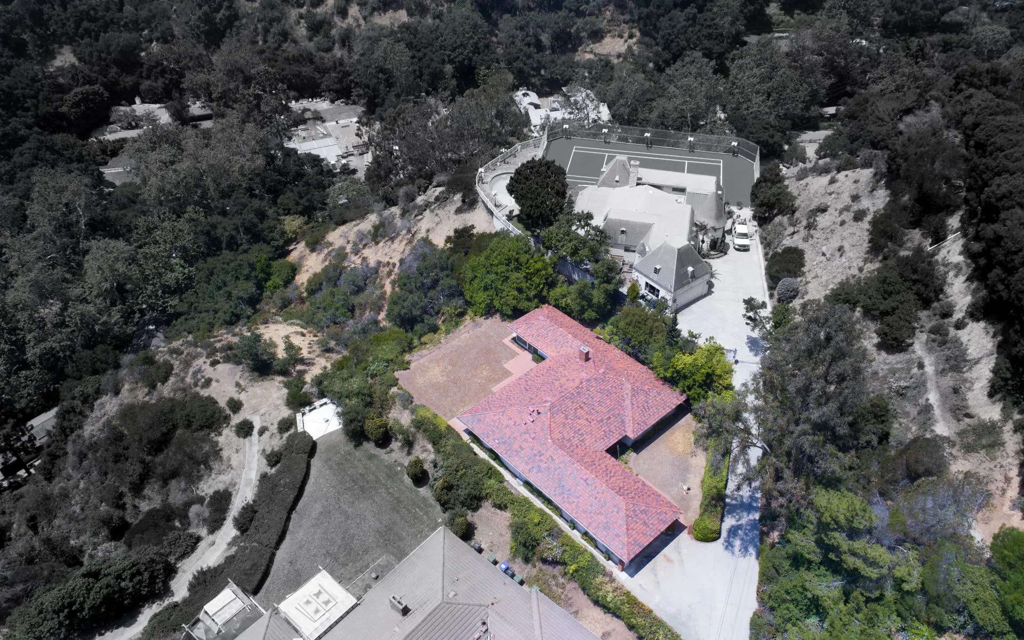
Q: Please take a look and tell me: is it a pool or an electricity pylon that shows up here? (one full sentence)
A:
The image shows a pool.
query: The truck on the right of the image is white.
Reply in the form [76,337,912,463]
[727,220,752,248]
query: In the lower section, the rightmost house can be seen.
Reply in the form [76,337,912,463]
[457,303,688,565]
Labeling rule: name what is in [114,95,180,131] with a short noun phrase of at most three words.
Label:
house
